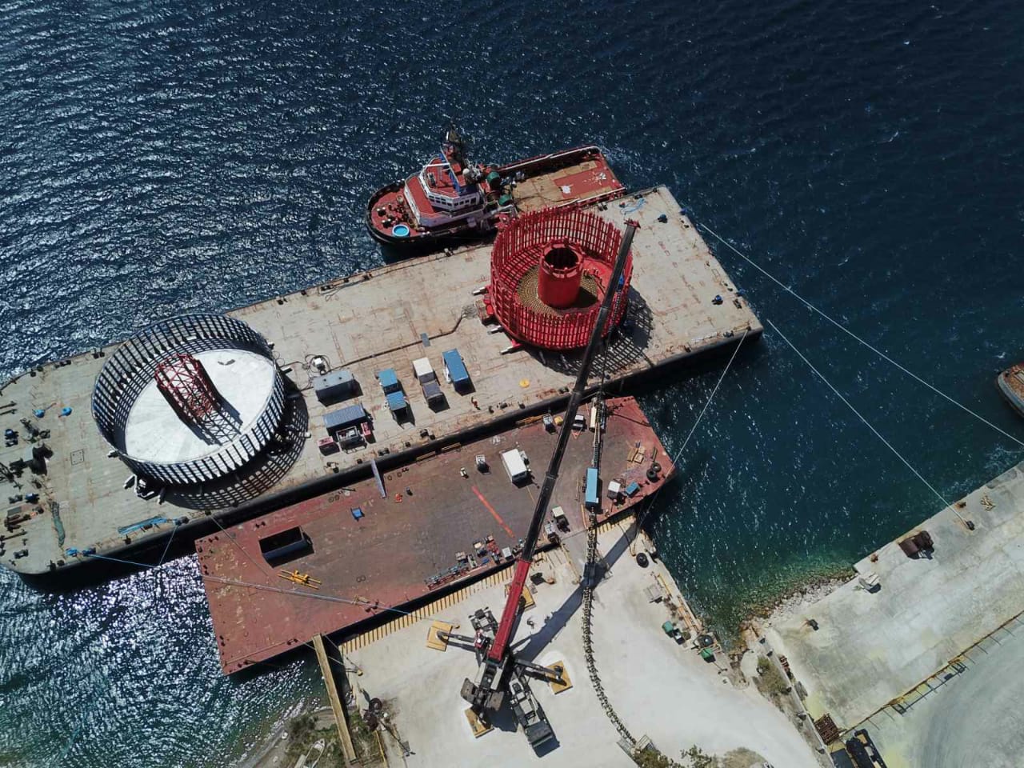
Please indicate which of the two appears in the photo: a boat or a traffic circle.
boat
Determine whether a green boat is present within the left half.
No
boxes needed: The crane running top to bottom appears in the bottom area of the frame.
[433,225,639,753]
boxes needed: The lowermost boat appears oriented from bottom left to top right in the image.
[300,739,323,768]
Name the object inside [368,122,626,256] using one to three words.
boat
